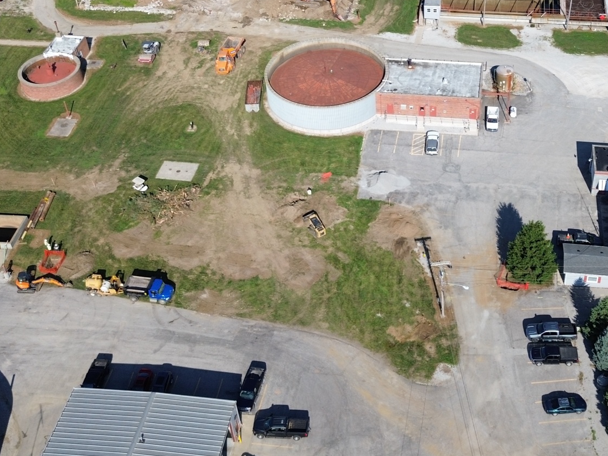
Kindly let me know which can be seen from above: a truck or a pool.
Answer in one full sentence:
This aerial view contains a truck.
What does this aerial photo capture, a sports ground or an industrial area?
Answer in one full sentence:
The picture captures an industrial area.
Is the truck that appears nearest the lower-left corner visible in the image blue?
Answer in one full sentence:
No, from above the truck that appears nearest the lower-left corner looks black.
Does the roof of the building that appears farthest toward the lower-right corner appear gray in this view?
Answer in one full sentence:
Yes, gray is the color of the roof of the building that appears farthest toward the lower-right corner.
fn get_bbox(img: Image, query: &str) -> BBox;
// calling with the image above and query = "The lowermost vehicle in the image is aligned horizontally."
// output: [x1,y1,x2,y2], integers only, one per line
[252,417,312,444]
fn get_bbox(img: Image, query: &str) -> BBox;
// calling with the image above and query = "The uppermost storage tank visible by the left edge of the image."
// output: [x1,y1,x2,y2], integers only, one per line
[18,54,86,103]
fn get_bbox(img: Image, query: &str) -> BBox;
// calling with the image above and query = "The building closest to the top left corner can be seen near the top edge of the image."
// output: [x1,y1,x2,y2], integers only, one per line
[43,16,92,66]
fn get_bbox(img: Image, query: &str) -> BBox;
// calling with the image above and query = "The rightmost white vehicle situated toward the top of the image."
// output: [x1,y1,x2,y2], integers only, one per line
[485,104,502,133]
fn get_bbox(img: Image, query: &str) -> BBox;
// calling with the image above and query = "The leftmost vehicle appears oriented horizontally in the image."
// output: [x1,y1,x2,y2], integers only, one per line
[13,274,77,297]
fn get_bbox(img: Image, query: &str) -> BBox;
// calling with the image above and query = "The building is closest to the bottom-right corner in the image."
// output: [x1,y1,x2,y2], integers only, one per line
[564,243,608,288]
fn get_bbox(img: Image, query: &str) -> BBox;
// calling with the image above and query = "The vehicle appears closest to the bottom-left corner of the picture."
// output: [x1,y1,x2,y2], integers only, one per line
[79,354,113,389]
